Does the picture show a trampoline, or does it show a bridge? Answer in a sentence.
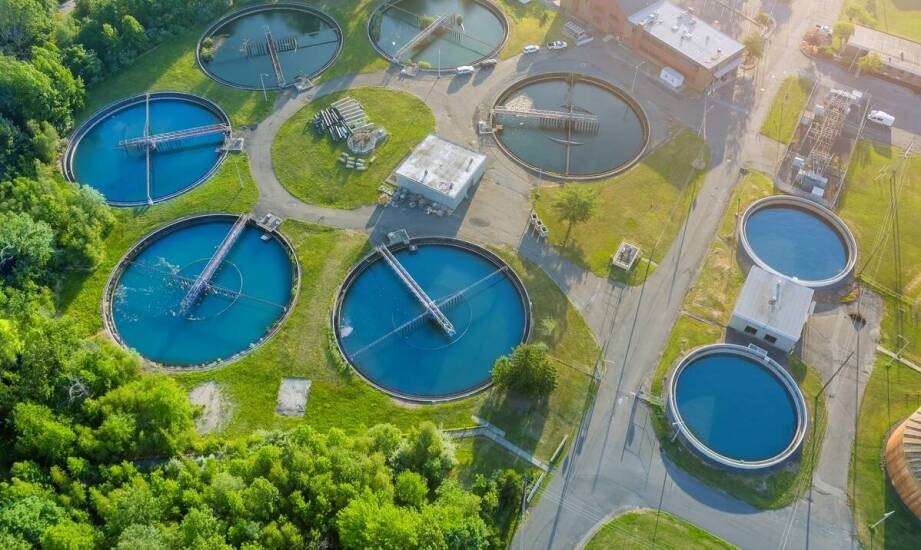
There is a bridge in the scene.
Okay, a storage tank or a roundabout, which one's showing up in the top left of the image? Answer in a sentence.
It is a storage tank that can be seen in the top left of the image.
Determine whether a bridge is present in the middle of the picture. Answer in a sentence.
Yes, you'll find a bridge in the middle of the picture.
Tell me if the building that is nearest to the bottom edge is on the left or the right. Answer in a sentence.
The building that is nearest to the bottom edge appears in the right half of the scene.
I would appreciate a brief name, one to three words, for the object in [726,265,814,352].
building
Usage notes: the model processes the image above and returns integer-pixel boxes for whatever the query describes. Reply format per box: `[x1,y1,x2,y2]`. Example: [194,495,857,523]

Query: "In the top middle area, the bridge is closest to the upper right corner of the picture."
[490,102,600,126]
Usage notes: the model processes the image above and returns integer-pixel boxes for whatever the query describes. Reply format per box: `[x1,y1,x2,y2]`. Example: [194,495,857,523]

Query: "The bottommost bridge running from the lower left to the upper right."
[181,208,250,312]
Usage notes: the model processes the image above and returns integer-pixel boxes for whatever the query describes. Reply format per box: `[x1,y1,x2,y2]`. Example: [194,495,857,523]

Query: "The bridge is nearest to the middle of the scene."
[374,240,454,335]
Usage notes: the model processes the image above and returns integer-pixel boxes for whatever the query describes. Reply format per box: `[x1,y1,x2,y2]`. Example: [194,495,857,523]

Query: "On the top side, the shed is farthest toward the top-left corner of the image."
[395,133,487,212]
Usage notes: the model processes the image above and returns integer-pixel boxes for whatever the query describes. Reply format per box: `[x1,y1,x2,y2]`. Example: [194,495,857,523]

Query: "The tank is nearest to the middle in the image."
[332,221,532,403]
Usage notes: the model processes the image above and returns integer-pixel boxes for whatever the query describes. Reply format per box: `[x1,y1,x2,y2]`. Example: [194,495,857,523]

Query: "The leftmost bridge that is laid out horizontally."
[117,120,233,149]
